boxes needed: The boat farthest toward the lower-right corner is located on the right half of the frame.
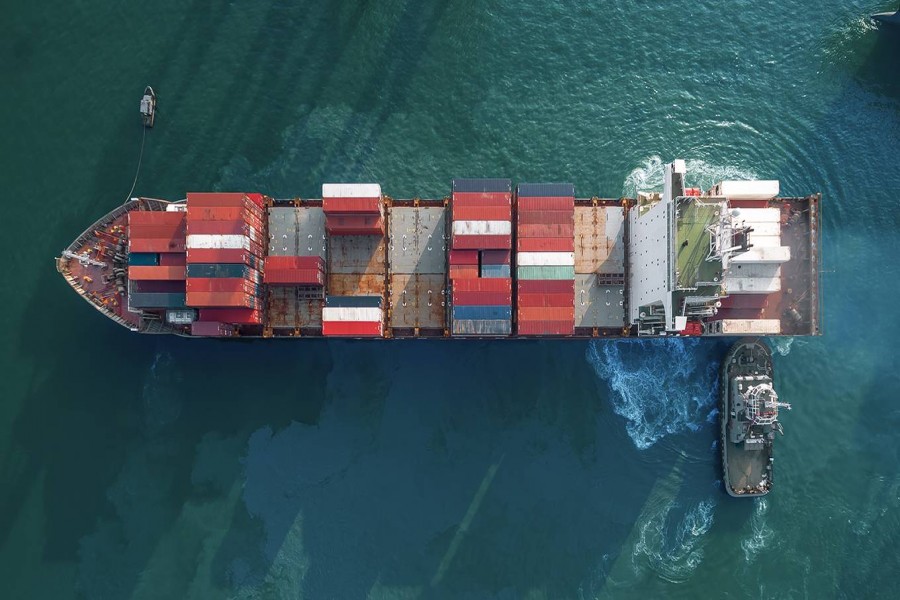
[721,338,793,499]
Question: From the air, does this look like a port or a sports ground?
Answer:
port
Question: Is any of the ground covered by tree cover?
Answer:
No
